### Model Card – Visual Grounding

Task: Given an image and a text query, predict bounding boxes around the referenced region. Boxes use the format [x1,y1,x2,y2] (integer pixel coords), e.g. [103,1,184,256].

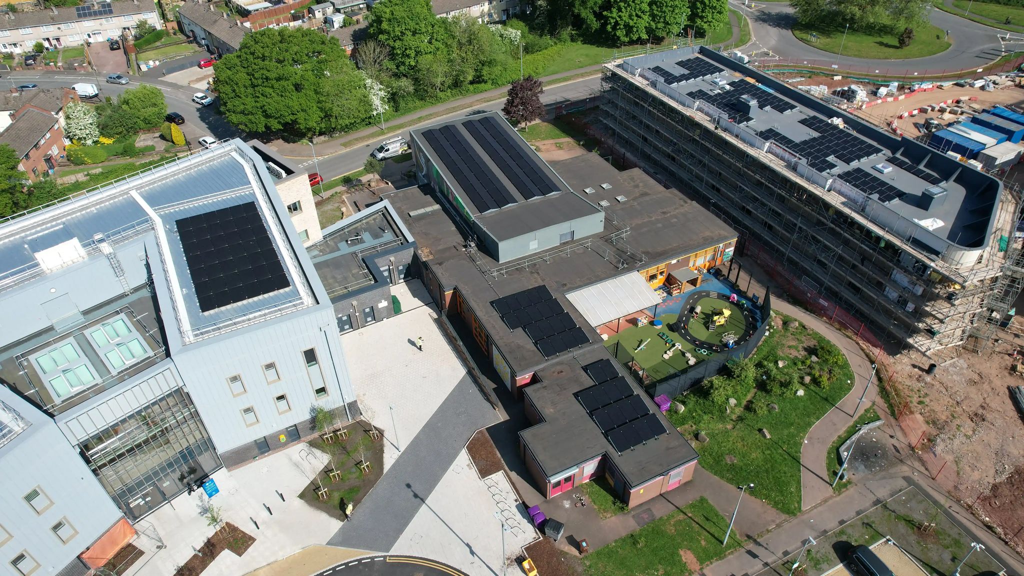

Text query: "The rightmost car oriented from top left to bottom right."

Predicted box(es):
[838,531,900,576]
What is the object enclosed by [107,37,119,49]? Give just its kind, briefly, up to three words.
vehicle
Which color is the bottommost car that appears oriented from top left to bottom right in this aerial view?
black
